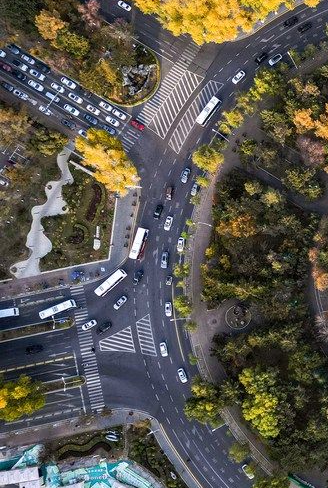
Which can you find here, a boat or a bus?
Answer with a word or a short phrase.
bus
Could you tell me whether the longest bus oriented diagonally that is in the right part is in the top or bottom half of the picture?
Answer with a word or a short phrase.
top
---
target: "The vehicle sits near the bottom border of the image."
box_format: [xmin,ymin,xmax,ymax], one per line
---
[241,465,254,478]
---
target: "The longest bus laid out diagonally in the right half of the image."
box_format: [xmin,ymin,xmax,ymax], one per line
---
[195,94,227,129]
